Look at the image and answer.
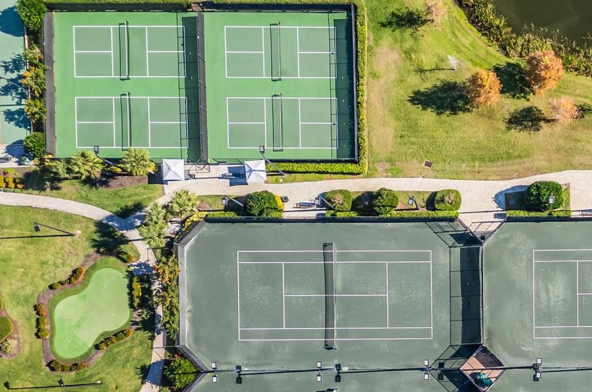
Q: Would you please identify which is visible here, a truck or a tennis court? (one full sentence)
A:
Visible in the photo is a tennis court.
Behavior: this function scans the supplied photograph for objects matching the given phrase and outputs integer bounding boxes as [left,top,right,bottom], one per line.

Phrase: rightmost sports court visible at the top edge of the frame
[204,11,352,87]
